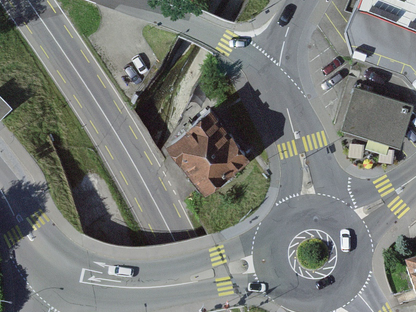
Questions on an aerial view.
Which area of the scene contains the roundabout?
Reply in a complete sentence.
The roundabout is in the bottom right part of the image.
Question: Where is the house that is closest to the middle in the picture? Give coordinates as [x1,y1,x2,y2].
[168,104,250,198]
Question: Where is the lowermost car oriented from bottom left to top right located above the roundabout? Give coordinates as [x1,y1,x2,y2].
[324,71,346,89]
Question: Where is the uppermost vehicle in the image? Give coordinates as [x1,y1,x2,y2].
[279,4,296,26]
